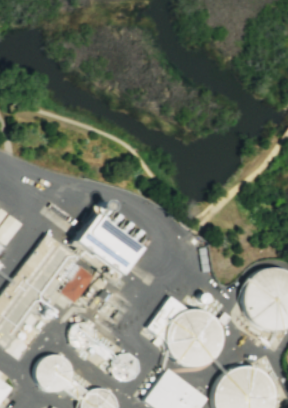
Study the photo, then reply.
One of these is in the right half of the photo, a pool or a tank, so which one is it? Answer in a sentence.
There is a tank in the right half of the photo.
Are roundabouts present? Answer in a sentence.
No, there's no roundabout here.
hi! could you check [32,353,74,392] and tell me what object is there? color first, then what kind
white storage tank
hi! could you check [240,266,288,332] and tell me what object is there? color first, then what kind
white storage tank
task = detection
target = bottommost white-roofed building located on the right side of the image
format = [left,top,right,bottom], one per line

[144,370,208,408]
